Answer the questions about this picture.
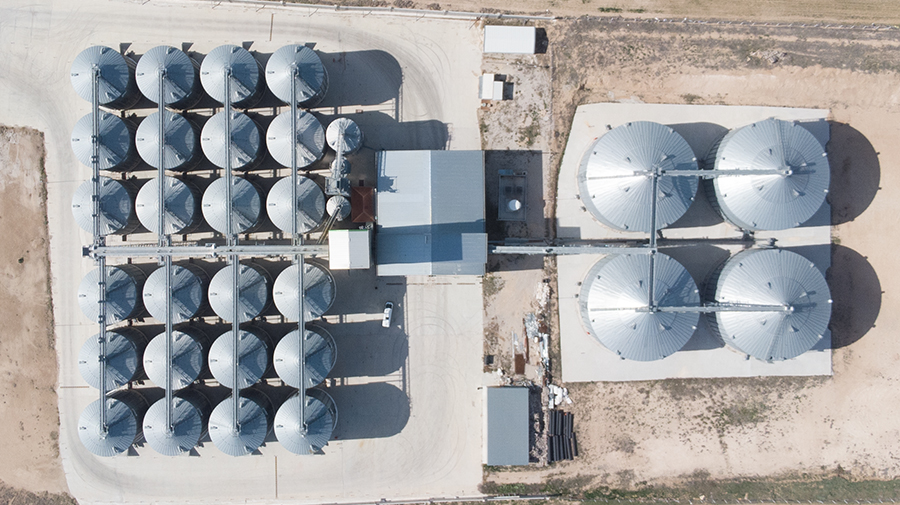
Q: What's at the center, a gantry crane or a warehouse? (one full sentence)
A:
Looking at the center, you will find a warehouse.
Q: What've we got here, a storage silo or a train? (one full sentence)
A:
I can see a storage silo in this picture.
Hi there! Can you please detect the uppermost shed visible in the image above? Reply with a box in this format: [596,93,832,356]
[484,26,535,55]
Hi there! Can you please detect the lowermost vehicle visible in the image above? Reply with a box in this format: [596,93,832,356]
[381,300,394,328]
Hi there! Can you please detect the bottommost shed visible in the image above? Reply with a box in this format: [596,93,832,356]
[480,384,529,465]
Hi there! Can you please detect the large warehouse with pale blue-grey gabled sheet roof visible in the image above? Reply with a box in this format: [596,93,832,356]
[375,149,487,276]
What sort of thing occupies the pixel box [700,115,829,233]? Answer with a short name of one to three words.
silo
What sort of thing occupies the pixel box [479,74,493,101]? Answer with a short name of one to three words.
building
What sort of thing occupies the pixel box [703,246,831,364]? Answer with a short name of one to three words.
silo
